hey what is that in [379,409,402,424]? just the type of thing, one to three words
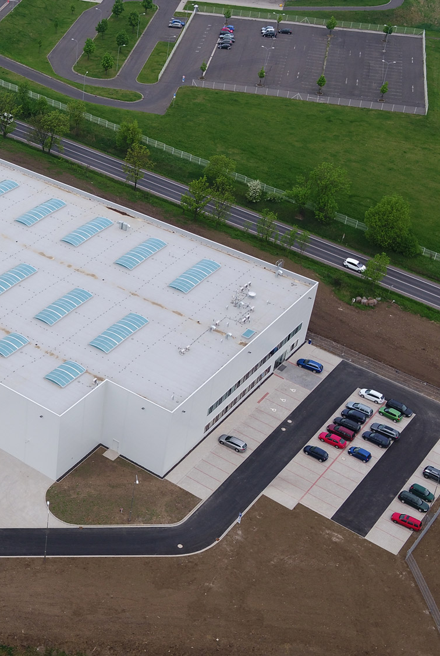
car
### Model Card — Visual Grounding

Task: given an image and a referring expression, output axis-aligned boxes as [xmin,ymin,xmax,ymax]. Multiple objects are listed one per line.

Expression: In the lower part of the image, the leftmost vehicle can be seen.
[219,436,247,453]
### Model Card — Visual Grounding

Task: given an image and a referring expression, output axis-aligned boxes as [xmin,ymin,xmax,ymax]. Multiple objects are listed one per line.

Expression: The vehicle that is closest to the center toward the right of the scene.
[298,360,323,374]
